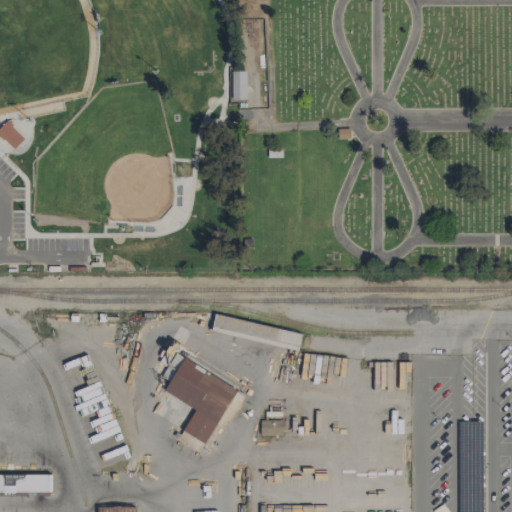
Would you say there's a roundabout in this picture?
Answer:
Yes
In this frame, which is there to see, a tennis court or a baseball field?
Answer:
baseball field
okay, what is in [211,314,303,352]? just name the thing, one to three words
shed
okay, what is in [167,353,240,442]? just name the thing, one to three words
building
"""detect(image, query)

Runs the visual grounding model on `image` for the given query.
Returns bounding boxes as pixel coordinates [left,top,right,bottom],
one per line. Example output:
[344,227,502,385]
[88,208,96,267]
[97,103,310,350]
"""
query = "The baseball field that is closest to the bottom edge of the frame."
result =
[36,80,174,224]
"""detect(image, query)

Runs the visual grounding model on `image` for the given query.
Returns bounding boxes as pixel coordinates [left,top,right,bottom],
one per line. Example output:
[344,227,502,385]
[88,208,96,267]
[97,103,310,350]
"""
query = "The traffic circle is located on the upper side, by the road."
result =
[353,96,403,144]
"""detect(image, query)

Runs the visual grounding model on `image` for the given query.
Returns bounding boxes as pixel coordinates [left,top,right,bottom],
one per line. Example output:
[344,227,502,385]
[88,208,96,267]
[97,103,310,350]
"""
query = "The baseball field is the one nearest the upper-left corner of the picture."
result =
[0,0,100,114]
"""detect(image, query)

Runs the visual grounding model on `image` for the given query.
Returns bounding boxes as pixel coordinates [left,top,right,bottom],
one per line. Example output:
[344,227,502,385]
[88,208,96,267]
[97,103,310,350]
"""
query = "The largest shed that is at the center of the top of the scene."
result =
[233,71,248,100]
